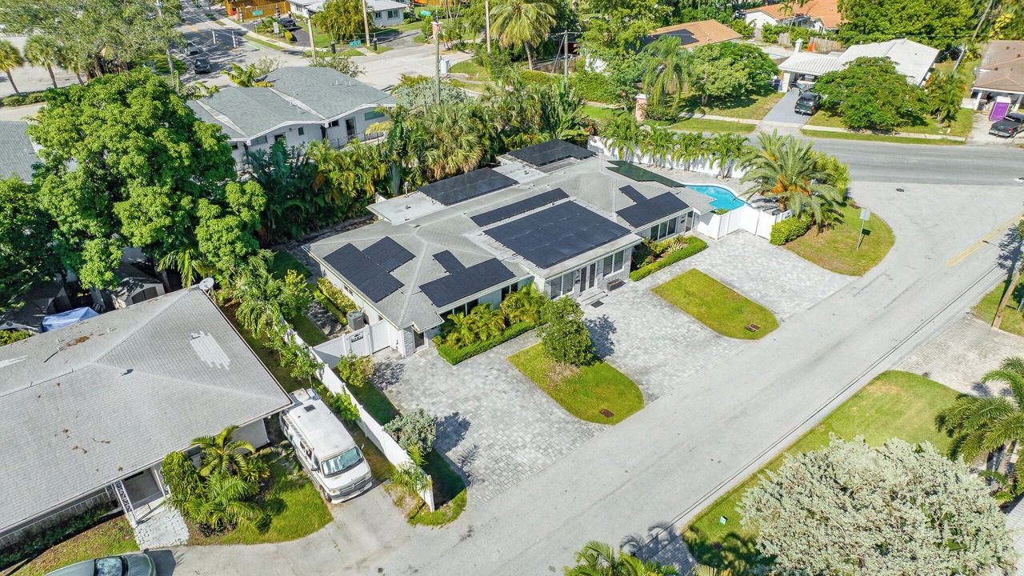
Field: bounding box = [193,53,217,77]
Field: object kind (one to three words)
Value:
car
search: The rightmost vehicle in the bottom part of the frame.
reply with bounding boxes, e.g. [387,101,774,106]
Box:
[274,382,367,496]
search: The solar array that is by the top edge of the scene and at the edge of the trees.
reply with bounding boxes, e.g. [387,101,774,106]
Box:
[653,25,702,49]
